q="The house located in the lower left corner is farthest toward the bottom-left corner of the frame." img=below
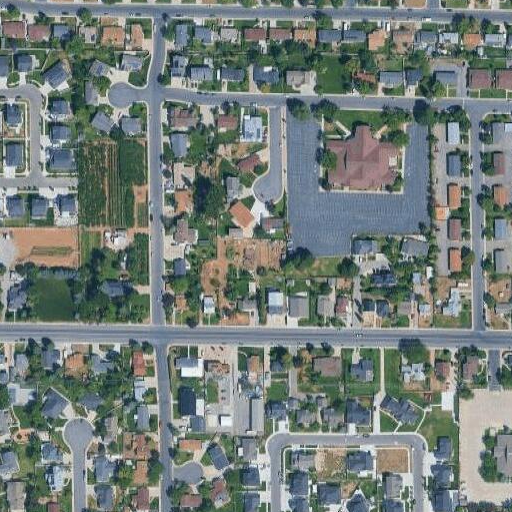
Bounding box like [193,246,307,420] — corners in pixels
[7,482,25,511]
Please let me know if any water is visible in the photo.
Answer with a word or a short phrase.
No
